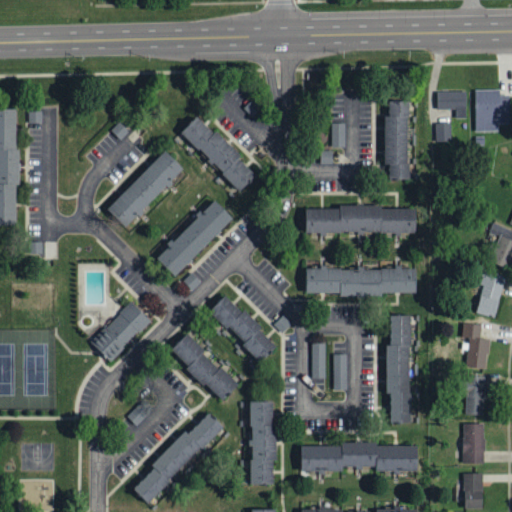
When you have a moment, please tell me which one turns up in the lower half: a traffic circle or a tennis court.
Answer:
tennis court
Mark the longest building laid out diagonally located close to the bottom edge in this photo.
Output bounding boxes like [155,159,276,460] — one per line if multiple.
[133,413,224,506]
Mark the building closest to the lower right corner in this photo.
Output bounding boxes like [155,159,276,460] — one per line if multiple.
[464,473,484,510]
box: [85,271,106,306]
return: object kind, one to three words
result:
swimming pool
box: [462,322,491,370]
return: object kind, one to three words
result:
house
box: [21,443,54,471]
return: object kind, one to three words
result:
basketball court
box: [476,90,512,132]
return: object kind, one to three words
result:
building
